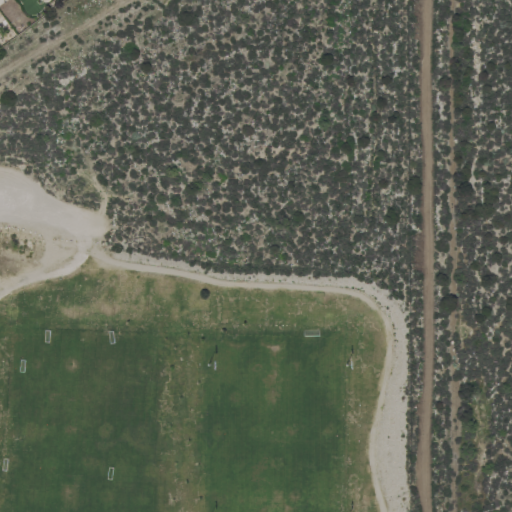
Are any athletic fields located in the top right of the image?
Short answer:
No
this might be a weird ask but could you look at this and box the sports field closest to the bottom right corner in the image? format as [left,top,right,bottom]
[204,332,346,512]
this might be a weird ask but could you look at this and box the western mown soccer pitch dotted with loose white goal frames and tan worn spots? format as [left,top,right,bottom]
[10,330,160,512]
